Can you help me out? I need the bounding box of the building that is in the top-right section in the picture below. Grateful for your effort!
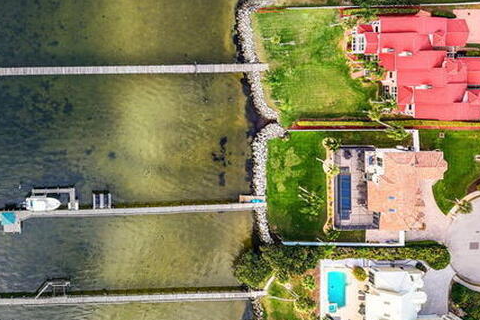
[345,17,480,120]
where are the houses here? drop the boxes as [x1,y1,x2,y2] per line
[360,149,450,231]
[345,17,480,120]
[358,267,463,320]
